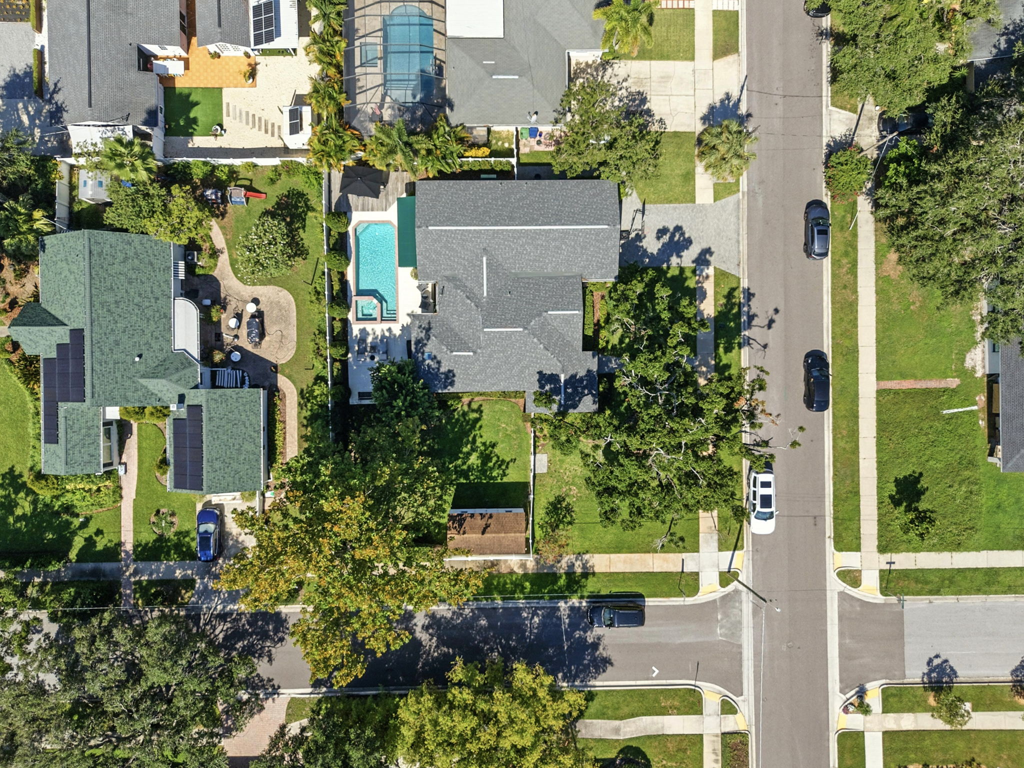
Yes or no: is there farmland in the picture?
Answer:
No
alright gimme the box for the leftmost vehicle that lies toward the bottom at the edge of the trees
[192,503,223,563]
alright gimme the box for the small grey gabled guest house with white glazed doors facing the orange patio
[192,0,255,56]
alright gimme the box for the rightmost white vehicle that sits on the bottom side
[746,468,778,534]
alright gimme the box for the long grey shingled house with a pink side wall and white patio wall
[49,0,187,142]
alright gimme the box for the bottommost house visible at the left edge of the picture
[9,234,270,497]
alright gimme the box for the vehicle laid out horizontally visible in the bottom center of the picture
[584,602,646,632]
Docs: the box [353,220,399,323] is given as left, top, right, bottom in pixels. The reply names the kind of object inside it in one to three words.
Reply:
swimming pool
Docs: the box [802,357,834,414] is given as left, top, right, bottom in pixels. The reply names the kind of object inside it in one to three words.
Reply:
car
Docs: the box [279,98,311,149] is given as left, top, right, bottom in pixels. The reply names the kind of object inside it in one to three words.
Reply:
shed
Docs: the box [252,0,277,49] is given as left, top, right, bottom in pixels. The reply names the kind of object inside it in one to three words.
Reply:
solar array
